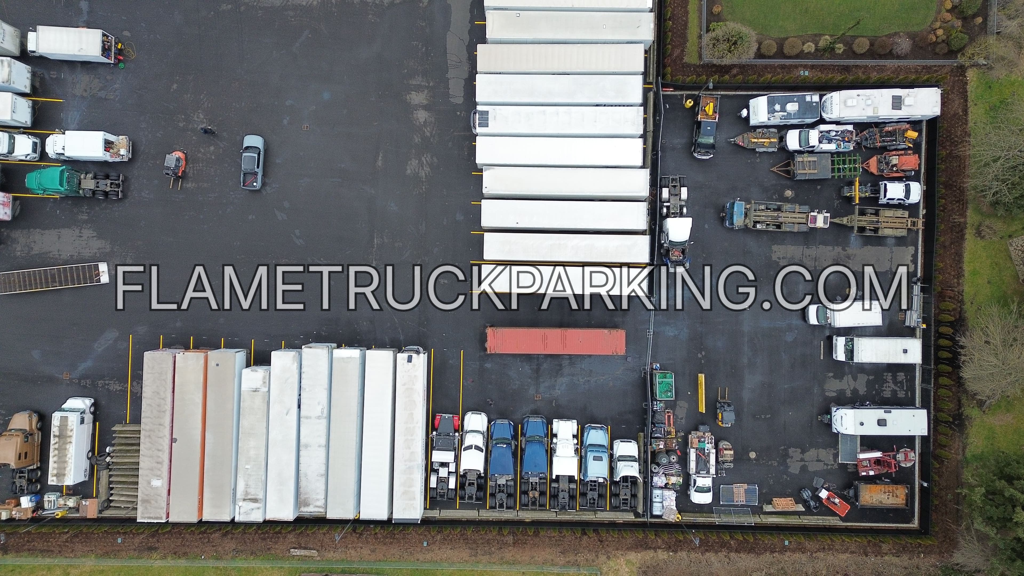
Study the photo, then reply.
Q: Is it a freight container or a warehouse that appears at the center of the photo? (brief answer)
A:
freight container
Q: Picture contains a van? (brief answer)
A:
Yes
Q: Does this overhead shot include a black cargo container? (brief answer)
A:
No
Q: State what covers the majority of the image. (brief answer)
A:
paved ground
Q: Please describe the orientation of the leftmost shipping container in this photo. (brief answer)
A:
from left to right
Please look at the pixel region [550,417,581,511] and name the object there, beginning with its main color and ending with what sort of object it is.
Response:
white truck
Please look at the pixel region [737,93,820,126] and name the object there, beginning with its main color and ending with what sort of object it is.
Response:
white vehicle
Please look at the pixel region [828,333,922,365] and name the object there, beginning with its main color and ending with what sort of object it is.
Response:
white van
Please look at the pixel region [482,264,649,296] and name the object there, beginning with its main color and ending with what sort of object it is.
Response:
white trailer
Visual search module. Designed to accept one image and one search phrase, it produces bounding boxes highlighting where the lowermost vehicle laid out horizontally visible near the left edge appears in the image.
[26,162,123,199]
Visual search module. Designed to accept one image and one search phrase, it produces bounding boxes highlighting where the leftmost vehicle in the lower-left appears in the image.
[0,409,46,496]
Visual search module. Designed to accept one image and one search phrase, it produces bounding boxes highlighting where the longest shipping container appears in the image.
[486,326,625,354]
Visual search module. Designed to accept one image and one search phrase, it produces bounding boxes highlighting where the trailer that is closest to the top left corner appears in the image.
[0,18,22,57]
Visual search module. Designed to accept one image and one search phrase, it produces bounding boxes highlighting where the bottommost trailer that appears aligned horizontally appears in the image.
[840,478,911,509]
